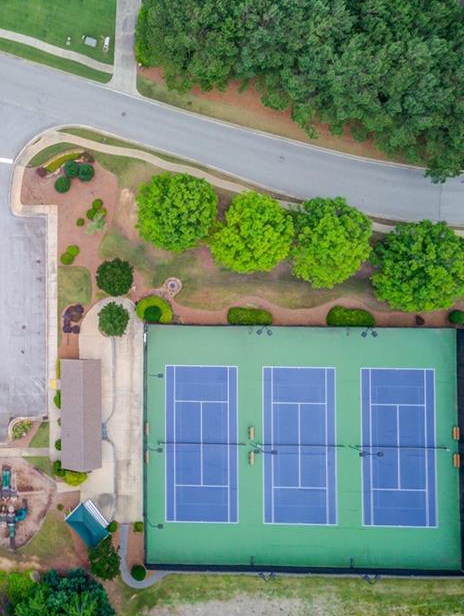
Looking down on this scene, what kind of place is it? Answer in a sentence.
This image shows a sports ground.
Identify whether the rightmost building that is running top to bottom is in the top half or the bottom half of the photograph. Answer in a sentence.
It is in the bottom half that the rightmost building that is running top to bottom appears.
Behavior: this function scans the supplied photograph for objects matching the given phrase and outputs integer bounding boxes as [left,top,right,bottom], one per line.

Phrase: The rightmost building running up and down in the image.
[60,359,101,472]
